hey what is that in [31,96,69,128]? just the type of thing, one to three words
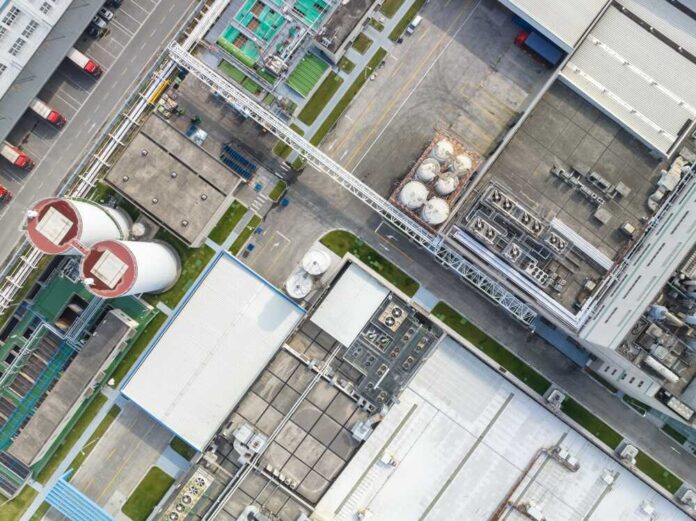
truck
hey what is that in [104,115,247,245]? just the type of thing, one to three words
building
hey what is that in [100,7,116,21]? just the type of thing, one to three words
car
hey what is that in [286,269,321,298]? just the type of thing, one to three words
storage tank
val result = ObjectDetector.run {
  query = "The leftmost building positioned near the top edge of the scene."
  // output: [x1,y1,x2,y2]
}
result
[0,0,109,147]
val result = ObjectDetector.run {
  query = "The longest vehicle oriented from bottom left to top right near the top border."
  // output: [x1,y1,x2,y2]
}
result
[404,16,421,37]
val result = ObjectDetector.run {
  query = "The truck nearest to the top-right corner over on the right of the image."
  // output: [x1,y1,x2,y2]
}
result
[512,29,561,67]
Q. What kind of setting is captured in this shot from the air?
industrial area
